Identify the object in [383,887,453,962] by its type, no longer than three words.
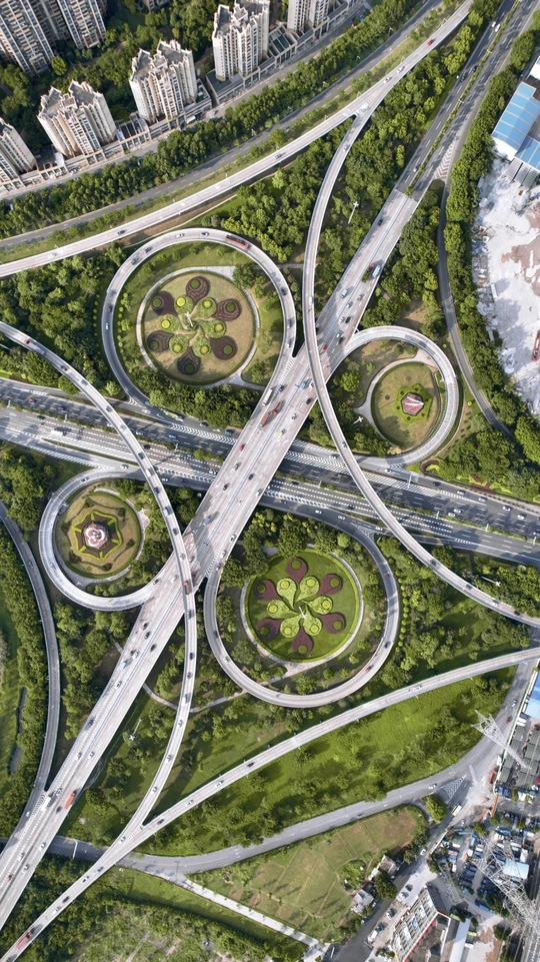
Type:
building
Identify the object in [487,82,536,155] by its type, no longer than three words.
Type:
building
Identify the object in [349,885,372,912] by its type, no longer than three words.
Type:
house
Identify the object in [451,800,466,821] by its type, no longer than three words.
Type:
vehicle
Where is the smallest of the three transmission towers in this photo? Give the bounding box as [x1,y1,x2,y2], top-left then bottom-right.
[424,850,458,906]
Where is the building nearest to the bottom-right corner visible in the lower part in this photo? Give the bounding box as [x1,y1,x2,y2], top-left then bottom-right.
[441,914,471,962]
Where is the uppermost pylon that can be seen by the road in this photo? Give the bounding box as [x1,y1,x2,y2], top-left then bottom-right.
[469,709,528,770]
